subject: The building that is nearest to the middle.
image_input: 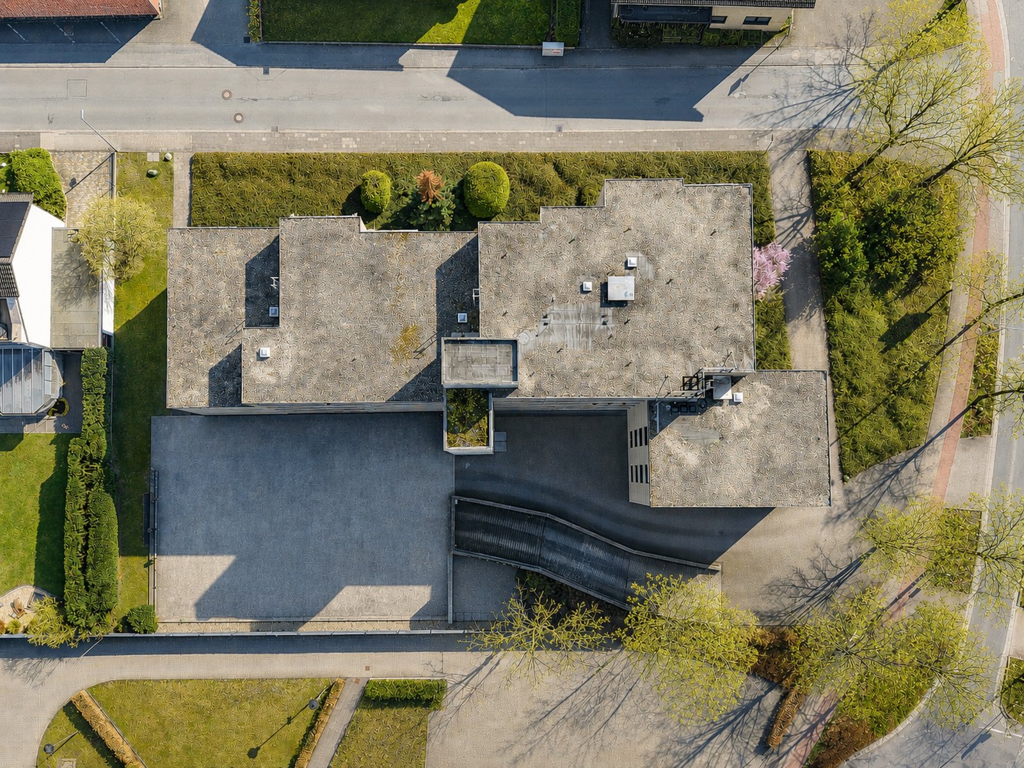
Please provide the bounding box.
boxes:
[166,178,831,507]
